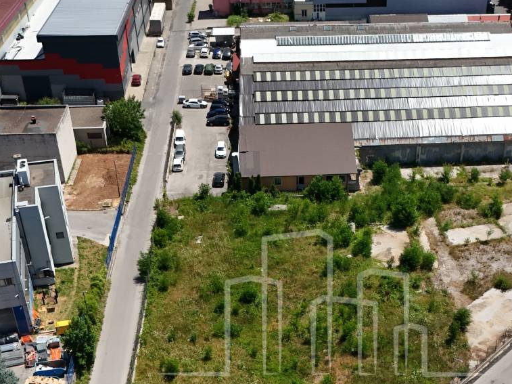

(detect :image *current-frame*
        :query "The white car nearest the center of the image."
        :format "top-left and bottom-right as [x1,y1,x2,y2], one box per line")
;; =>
[214,141,227,157]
